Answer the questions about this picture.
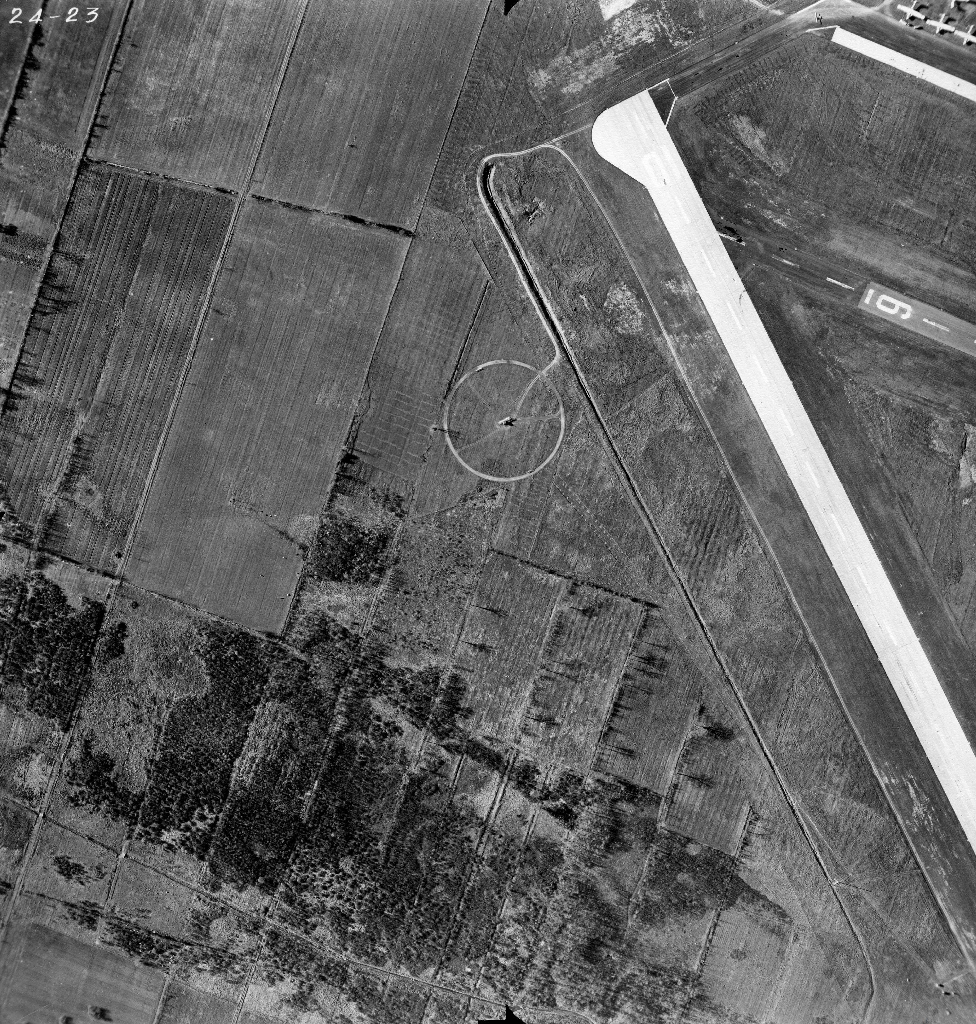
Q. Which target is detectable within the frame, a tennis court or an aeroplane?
aeroplane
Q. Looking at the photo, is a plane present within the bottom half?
No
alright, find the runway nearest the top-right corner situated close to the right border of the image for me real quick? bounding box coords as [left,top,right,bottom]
[858,281,976,359]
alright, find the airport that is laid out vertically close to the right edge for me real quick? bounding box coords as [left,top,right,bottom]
[592,0,976,853]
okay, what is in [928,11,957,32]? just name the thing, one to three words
airplane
